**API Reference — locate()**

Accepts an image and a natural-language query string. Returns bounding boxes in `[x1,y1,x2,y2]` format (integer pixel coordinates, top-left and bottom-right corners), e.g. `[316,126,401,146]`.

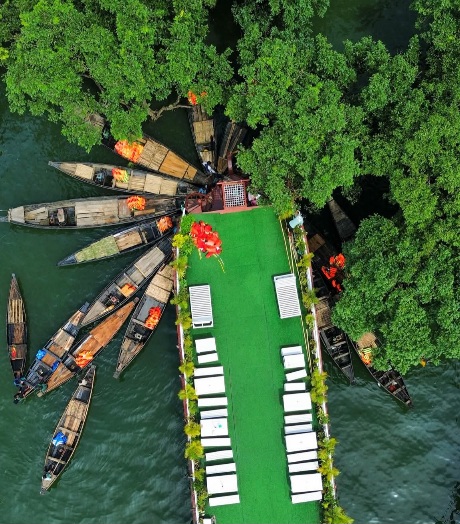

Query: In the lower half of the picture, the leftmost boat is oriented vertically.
[6,271,29,388]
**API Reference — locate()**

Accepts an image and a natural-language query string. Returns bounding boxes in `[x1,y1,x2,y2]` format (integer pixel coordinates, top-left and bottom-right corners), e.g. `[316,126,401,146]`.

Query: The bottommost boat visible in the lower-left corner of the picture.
[37,363,98,497]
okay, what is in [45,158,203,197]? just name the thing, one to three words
boat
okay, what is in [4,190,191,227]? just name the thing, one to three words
boat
